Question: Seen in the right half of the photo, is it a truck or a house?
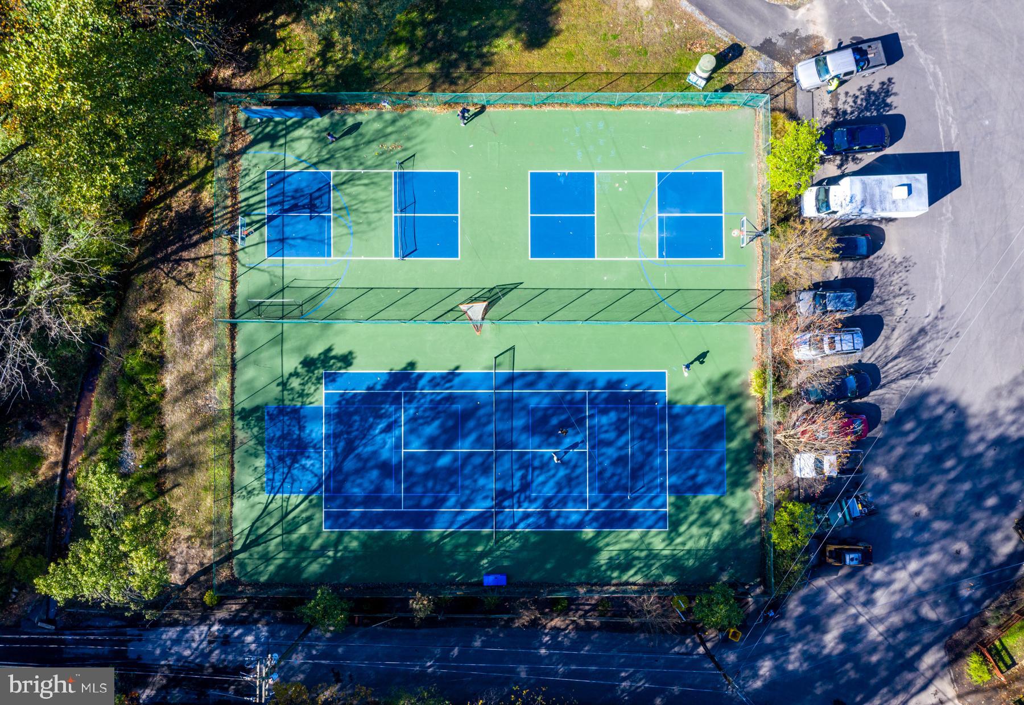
truck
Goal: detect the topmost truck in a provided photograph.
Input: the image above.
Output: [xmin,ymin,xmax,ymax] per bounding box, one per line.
[791,37,888,91]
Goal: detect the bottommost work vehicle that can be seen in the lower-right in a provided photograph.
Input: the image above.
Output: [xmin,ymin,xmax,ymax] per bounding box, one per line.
[813,540,873,568]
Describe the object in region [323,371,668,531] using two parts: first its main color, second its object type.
blue tennis court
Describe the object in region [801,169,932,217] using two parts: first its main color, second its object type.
white truck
